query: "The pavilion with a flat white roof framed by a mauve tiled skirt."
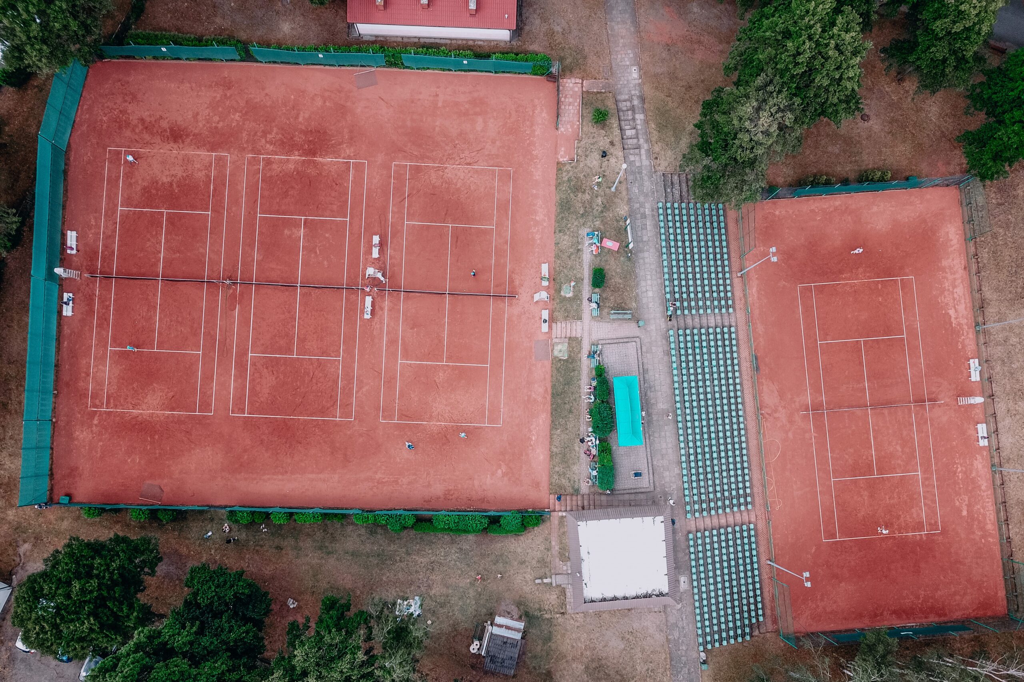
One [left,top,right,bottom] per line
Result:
[565,504,682,614]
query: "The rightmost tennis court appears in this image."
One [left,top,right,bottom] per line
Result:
[751,188,1007,636]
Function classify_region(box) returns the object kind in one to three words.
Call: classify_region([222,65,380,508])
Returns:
tennis court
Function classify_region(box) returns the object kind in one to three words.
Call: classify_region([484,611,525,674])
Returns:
shed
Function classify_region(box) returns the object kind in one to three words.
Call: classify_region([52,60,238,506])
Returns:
tennis court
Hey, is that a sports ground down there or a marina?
sports ground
